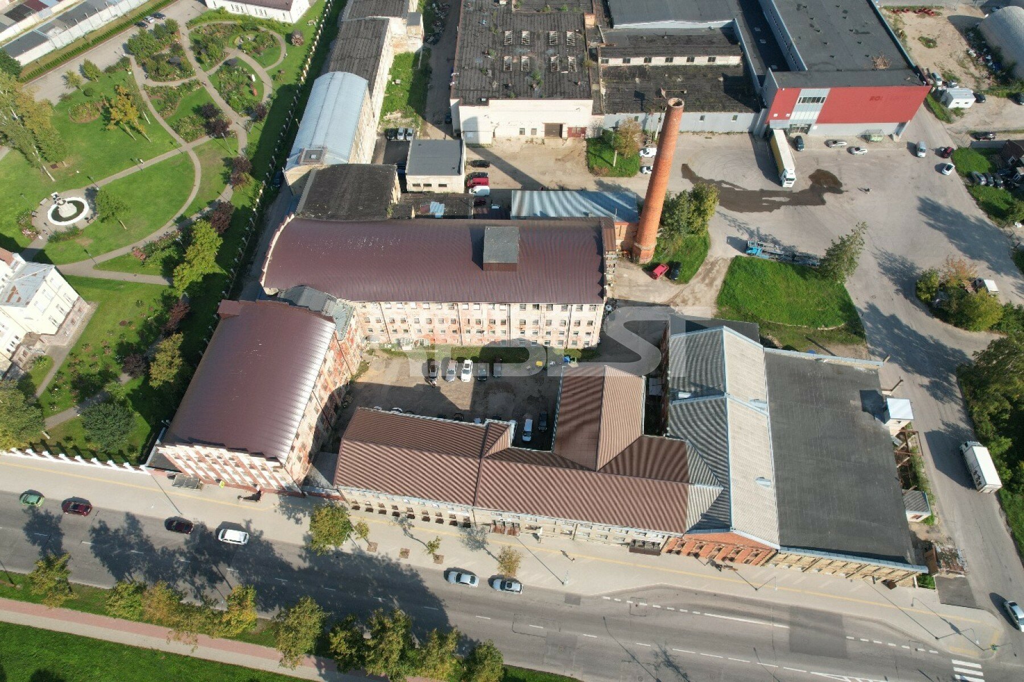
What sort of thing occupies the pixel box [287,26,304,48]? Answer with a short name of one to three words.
gazebo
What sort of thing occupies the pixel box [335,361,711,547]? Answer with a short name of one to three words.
building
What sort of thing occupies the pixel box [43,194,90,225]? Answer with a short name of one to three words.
fountain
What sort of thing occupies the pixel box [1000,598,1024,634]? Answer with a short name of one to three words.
car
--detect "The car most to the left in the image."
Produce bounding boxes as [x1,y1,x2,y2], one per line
[17,491,49,508]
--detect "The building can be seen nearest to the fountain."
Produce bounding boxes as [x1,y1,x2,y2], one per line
[0,261,91,346]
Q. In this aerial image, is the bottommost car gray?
Yes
